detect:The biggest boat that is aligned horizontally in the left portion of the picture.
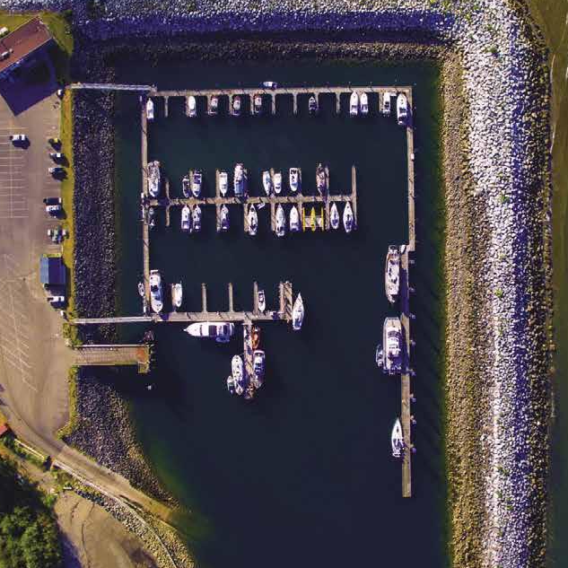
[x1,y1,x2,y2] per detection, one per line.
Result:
[185,321,237,338]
